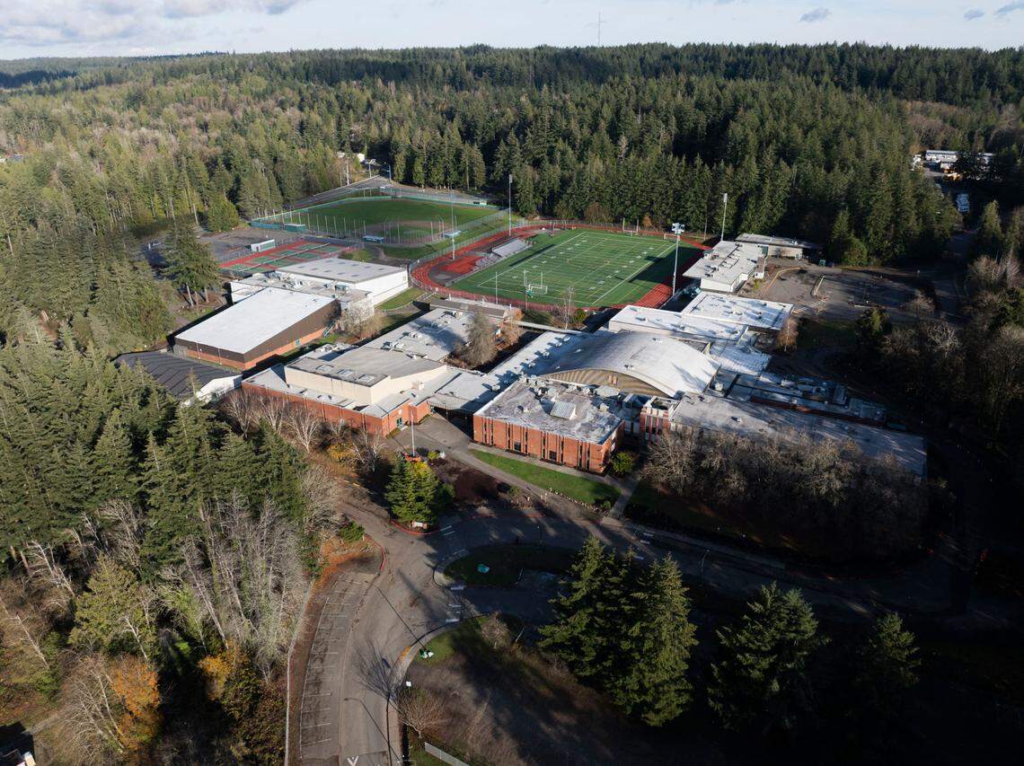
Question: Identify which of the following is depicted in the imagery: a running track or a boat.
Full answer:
This aerial view contains a running track.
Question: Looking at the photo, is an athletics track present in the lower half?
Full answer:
No, I see no athletics track in the lower half.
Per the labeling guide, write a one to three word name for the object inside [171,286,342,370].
building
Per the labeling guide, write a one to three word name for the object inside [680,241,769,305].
building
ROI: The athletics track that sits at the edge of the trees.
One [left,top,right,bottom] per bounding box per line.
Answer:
[405,224,704,313]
